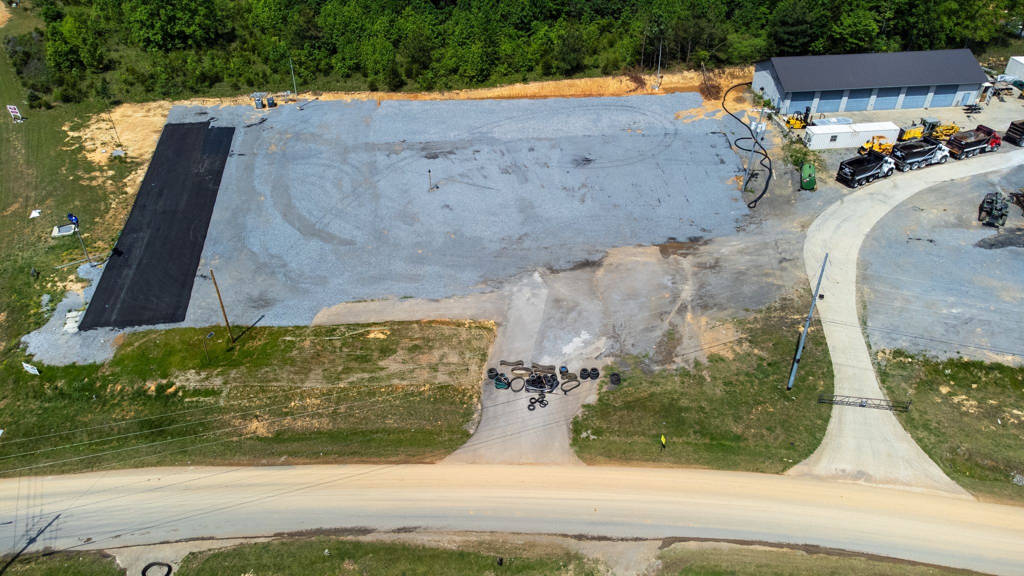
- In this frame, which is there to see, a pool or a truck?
truck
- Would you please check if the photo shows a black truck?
Yes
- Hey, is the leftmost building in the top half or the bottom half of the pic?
top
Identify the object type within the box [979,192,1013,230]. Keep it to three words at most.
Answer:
work vehicle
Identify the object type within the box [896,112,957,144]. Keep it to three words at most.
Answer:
work vehicle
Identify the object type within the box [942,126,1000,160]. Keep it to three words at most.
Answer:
truck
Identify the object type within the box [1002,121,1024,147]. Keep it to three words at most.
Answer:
truck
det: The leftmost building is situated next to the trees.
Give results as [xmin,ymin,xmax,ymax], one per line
[746,49,994,113]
